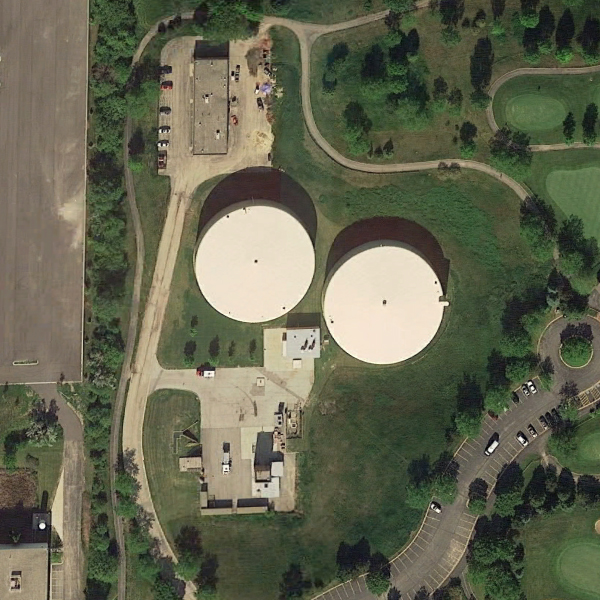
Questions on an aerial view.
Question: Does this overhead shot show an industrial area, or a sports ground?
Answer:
industrial area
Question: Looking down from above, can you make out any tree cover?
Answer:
Yes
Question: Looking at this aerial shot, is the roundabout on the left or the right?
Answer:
right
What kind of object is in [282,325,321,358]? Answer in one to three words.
building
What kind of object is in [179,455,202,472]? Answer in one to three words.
building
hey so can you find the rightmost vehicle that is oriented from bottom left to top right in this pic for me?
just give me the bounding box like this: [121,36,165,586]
[485,437,500,454]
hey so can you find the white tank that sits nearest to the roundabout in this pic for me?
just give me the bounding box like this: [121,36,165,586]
[322,238,450,364]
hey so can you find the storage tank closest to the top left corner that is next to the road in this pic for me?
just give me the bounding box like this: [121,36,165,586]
[194,196,317,323]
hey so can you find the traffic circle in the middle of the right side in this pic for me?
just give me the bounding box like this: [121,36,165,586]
[537,309,600,384]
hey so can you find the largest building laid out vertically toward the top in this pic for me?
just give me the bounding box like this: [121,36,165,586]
[193,56,229,154]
